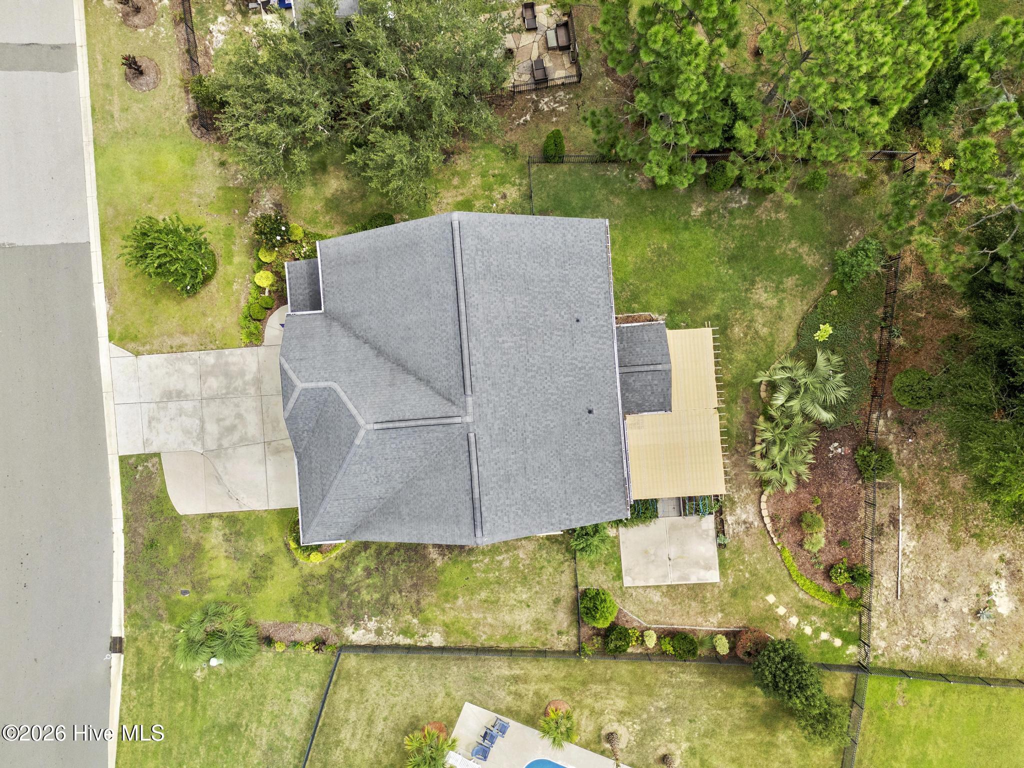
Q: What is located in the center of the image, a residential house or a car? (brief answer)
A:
residential house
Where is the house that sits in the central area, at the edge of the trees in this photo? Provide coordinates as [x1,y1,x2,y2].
[278,212,672,548]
